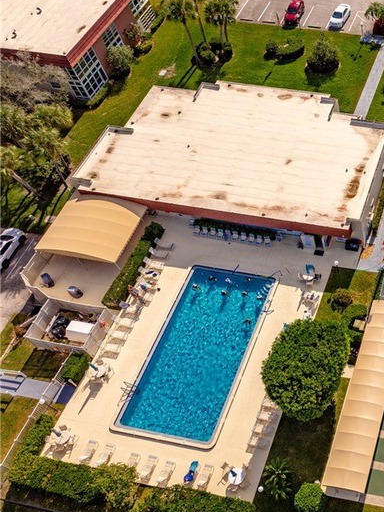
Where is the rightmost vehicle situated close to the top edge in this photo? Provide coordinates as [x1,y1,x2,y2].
[330,7,351,30]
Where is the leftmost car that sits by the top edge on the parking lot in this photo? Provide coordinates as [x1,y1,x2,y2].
[283,2,305,25]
